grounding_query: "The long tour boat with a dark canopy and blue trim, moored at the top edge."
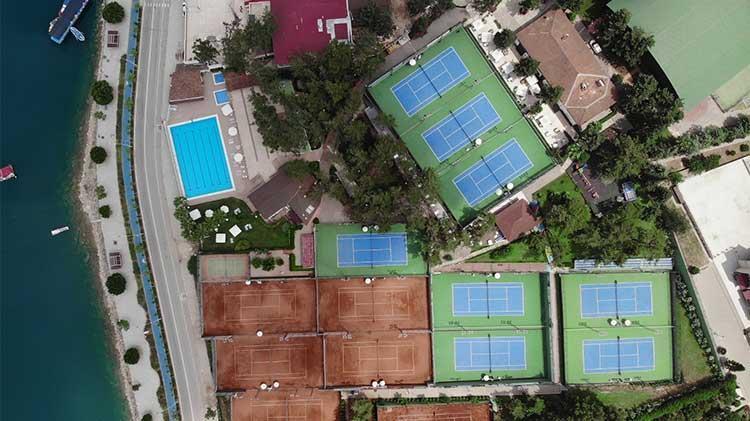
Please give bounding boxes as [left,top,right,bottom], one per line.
[48,0,97,49]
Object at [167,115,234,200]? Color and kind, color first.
blue swimming pool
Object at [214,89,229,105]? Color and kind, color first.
blue swimming pool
